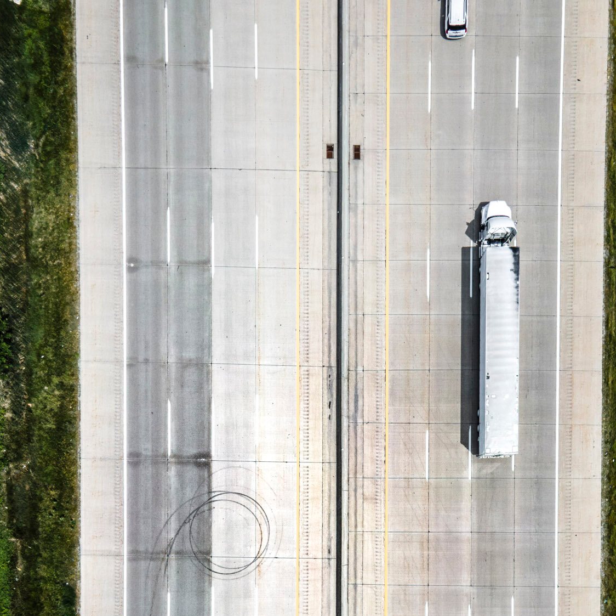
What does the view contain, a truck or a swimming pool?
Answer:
truck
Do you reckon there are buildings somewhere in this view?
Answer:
No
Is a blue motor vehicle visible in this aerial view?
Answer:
No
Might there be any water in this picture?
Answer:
No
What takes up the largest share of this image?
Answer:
paved ground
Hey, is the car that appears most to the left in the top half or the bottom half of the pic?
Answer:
top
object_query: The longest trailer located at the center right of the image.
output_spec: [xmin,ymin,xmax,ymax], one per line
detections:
[476,246,520,461]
